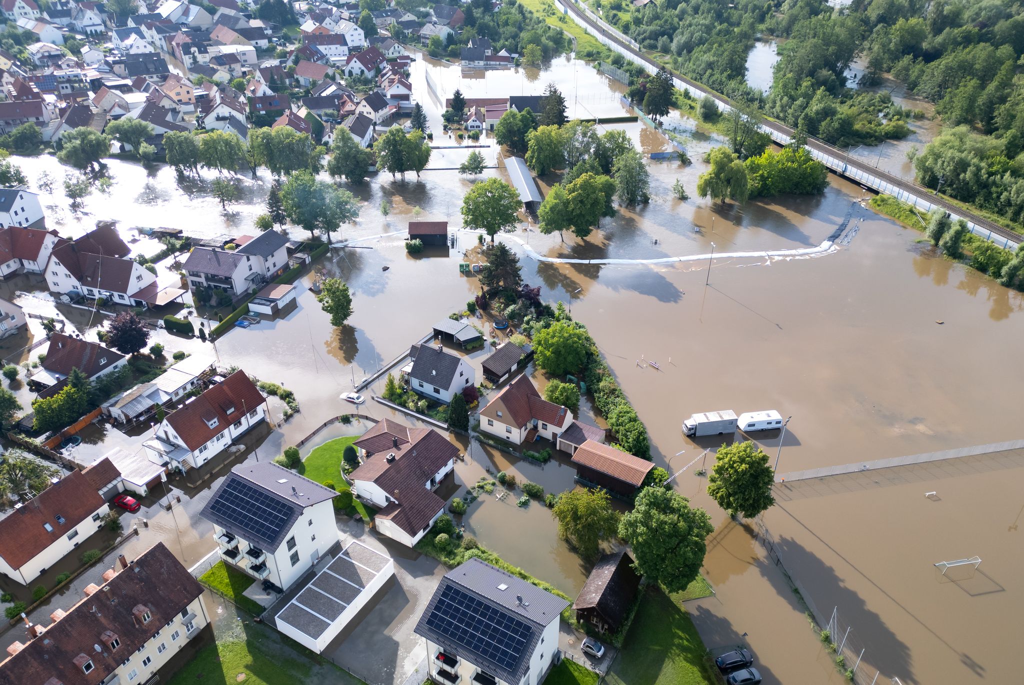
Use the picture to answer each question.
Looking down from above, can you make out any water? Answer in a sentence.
Yes, the picture does contain water.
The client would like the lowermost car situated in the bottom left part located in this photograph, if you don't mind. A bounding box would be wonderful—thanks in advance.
[112,495,140,512]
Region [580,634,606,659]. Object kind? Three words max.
car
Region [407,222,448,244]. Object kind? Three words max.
shed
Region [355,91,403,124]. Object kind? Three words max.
house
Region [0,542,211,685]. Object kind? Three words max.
building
